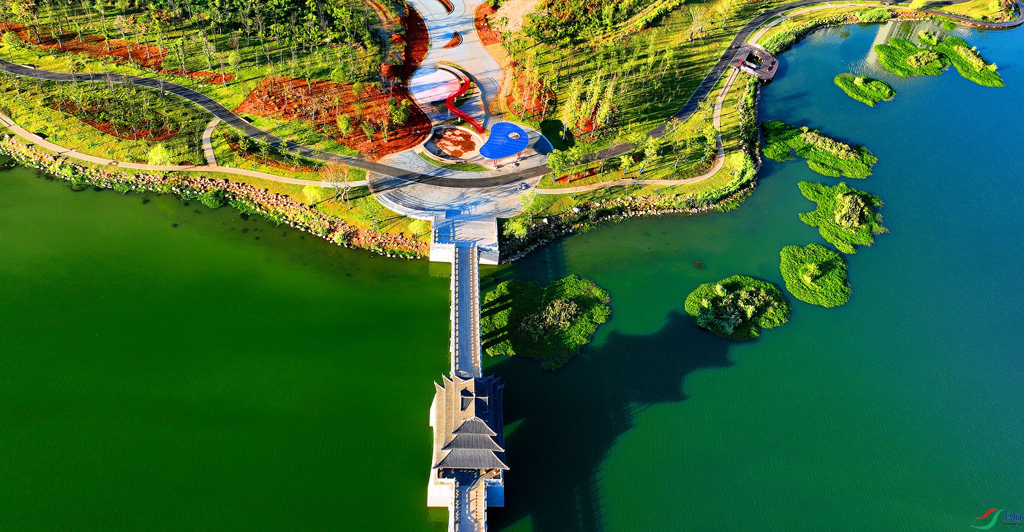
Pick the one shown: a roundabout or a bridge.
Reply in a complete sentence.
I can see a bridge in this picture.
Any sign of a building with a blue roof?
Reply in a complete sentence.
No, there's no building with a blue roof here.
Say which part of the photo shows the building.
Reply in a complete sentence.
The building is located in the bottom region of the scene.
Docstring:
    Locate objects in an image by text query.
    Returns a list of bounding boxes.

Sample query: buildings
[432,368,511,524]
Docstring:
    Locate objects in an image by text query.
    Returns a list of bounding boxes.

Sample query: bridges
[430,204,500,376]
